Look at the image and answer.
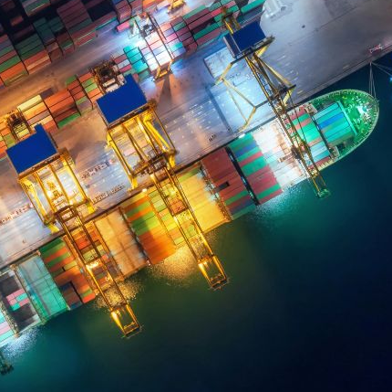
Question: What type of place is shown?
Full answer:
What you see here is a port.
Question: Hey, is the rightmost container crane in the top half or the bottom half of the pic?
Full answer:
It is in the top half that the rightmost container crane appears.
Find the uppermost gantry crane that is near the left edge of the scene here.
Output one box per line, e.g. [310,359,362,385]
[6,112,144,338]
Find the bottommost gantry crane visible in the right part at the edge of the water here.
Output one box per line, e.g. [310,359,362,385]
[214,8,334,200]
